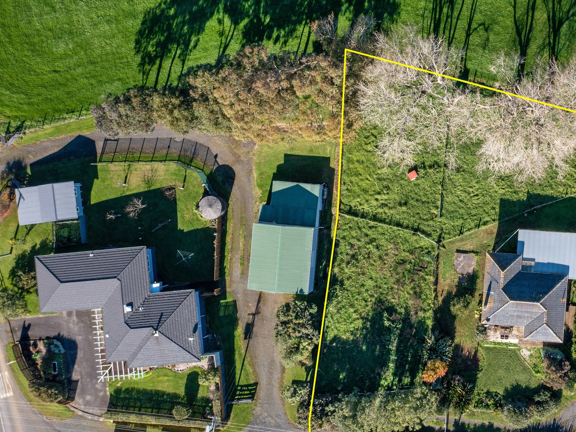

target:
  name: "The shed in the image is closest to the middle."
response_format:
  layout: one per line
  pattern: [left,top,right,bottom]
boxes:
[247,181,325,296]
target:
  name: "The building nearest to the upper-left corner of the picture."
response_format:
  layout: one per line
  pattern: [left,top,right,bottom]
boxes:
[15,181,85,226]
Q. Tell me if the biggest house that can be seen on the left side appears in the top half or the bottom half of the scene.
bottom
